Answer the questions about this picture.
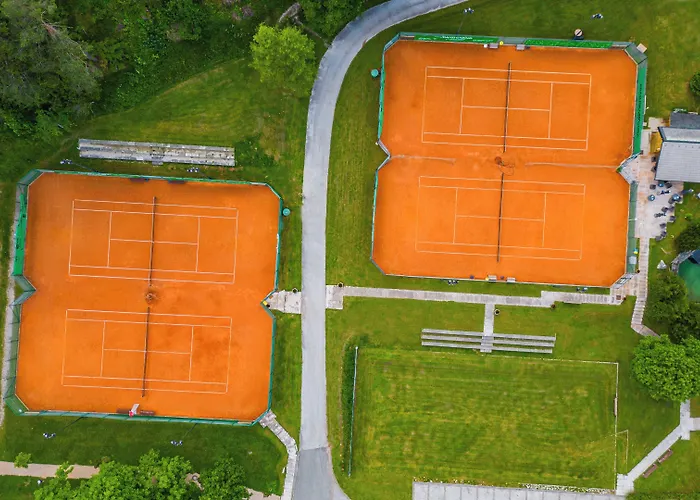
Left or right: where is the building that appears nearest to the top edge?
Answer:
right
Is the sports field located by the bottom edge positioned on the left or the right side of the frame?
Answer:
right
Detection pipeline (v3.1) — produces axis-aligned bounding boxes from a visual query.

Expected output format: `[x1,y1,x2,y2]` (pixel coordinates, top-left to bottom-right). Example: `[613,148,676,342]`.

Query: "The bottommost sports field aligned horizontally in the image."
[349,350,628,489]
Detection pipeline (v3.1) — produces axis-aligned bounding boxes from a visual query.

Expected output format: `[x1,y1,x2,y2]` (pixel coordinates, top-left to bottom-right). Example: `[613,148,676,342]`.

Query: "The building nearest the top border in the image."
[654,111,700,183]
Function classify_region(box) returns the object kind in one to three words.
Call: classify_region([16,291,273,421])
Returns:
tennis court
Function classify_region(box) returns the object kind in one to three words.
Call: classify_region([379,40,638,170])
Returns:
tennis court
